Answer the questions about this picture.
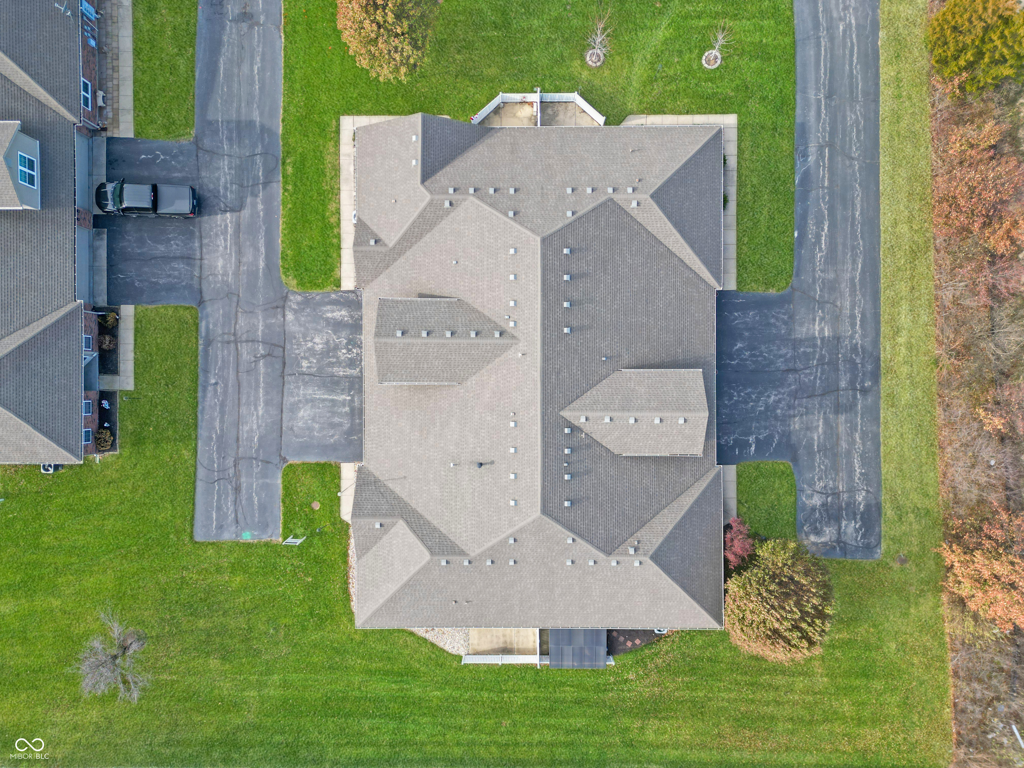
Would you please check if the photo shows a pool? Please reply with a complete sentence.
No, no pool can be seen from above.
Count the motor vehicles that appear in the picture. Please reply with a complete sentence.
Altogether the scene contains 1 motor vehicle.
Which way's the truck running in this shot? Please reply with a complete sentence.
The truck runs from left to right in the image.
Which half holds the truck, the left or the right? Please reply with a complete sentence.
You can find the truck on the left side of the picture.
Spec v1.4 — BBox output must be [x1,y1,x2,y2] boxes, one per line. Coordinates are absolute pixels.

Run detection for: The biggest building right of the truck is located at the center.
[349,111,724,629]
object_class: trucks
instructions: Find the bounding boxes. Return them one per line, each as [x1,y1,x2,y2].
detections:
[94,173,200,220]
